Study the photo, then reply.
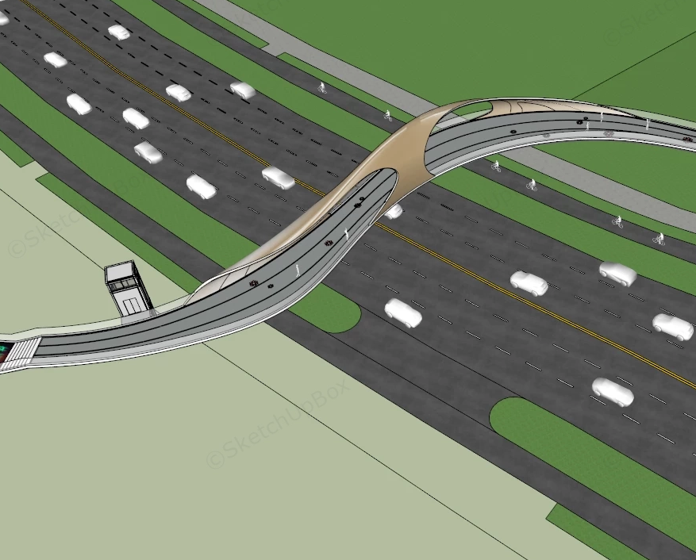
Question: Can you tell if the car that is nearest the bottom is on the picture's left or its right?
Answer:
right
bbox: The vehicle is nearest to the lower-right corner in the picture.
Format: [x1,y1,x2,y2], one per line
[593,379,634,409]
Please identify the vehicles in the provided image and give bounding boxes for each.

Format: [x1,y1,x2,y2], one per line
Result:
[593,379,634,409]
[166,85,191,101]
[44,50,66,69]
[600,263,639,287]
[230,82,257,99]
[385,299,422,328]
[109,24,130,40]
[66,93,92,113]
[135,142,162,163]
[123,108,149,129]
[263,167,294,189]
[510,271,548,295]
[0,13,8,24]
[187,175,216,199]
[653,314,695,342]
